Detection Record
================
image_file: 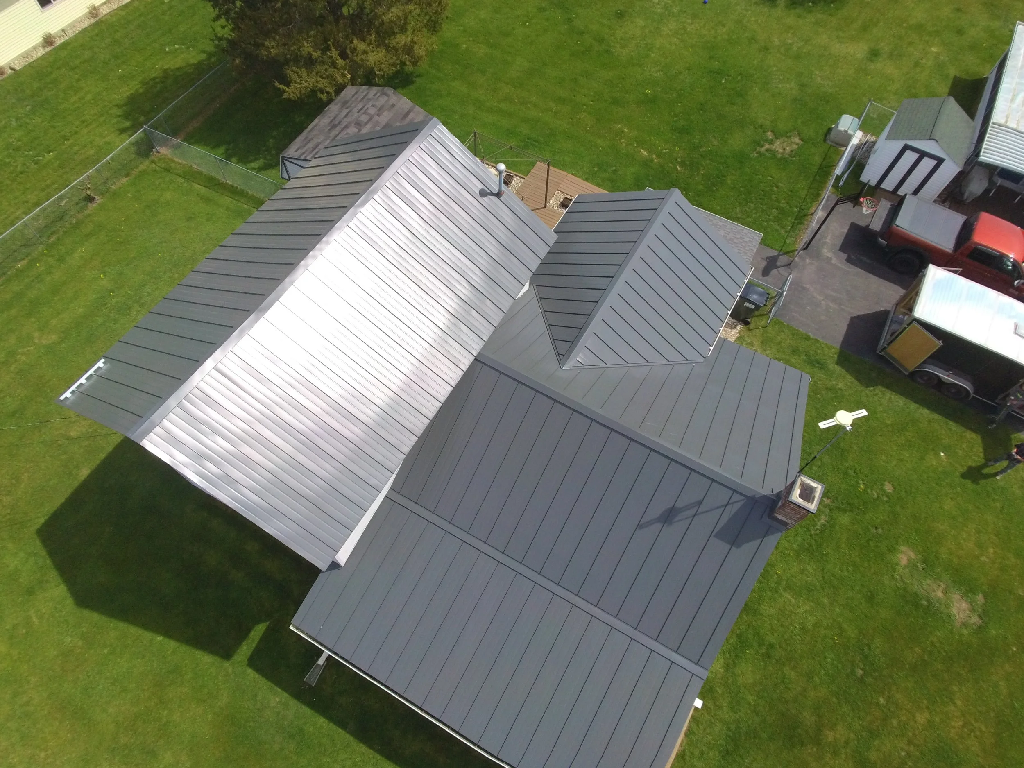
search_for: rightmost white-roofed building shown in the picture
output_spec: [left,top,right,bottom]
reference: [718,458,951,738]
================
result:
[945,19,1024,207]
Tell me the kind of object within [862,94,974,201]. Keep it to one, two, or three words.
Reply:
shed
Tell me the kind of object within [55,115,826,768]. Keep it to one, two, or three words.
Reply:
house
